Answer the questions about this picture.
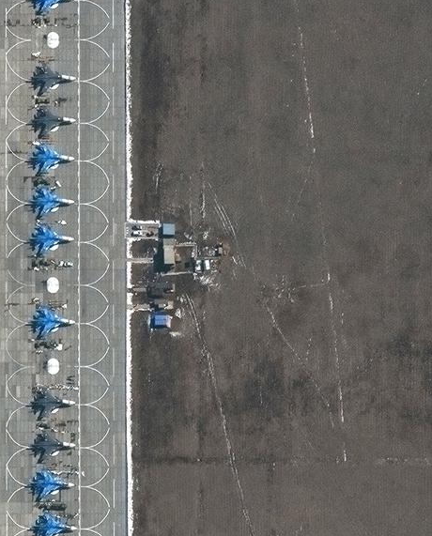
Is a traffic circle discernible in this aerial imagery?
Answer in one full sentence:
No, there is no traffic circle in the image.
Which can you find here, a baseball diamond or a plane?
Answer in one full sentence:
The image shows a plane.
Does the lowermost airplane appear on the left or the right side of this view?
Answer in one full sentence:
You can find the lowermost airplane on the left side of the picture.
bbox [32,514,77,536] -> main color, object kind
blue airplane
